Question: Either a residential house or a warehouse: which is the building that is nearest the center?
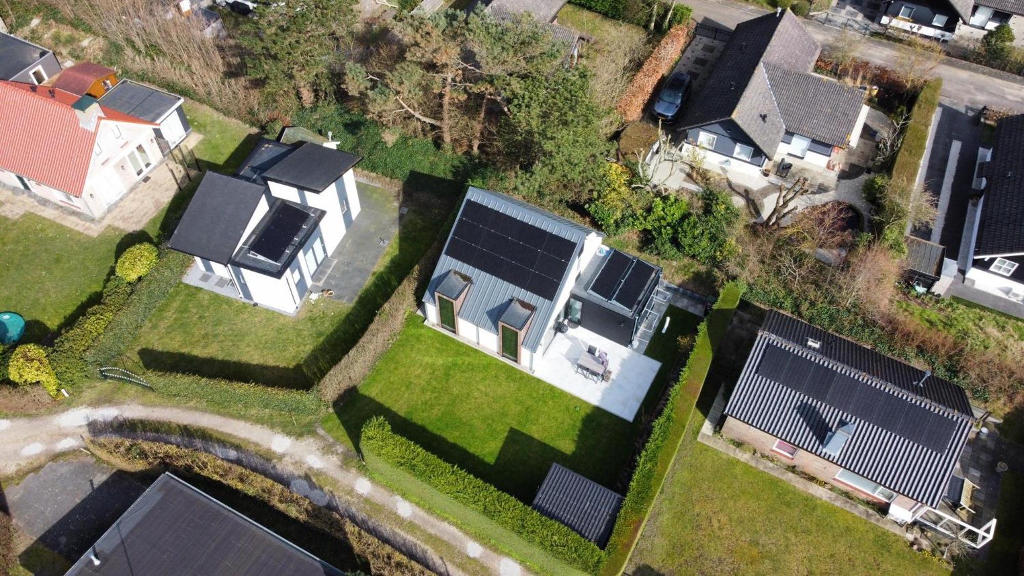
residential house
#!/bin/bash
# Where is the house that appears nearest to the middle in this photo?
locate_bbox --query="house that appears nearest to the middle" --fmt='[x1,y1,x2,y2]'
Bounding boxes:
[421,184,664,373]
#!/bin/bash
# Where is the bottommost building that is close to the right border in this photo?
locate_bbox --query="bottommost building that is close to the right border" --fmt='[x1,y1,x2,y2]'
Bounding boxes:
[724,307,976,529]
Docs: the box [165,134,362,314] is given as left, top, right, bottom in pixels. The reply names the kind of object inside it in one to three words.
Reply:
house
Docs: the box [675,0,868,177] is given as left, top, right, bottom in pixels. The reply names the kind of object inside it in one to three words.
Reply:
house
